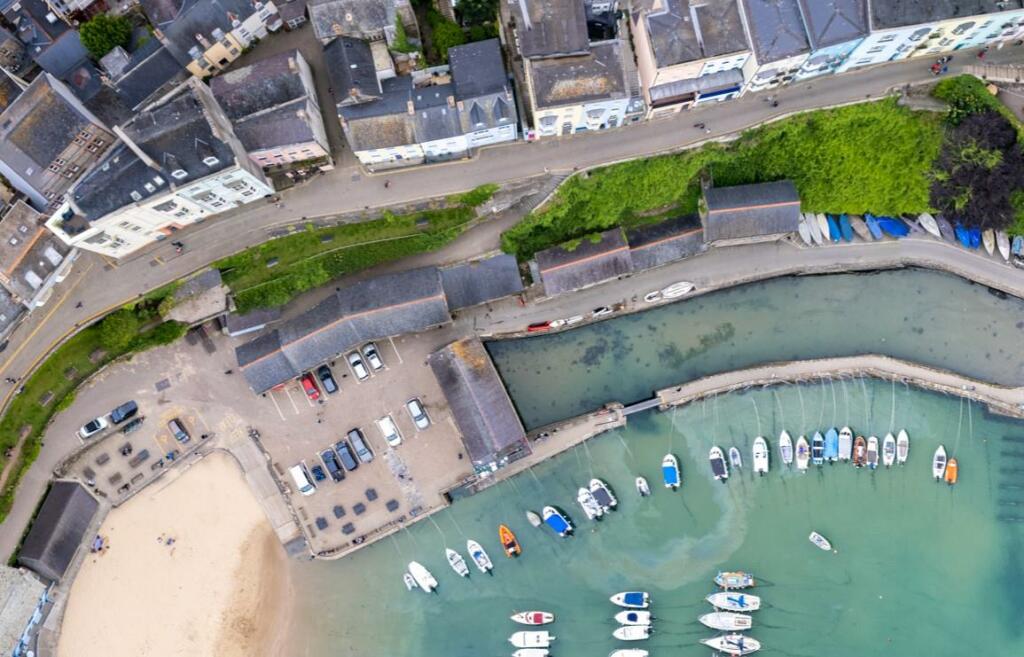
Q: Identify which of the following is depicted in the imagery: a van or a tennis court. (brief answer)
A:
van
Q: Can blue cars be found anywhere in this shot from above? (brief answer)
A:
Yes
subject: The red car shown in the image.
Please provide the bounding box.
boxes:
[298,373,321,401]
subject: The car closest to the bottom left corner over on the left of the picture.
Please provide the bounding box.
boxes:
[78,415,109,439]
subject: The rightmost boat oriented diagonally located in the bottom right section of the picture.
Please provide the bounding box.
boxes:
[810,532,834,553]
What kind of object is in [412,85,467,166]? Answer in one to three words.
house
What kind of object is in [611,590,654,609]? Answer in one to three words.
boat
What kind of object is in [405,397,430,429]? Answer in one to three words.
car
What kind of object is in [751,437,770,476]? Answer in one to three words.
boat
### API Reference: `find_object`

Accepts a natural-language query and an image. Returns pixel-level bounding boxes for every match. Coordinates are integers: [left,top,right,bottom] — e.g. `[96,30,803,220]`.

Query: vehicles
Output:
[110,400,140,424]
[405,397,430,429]
[298,373,321,401]
[346,351,371,382]
[333,439,361,472]
[286,461,317,497]
[317,365,340,395]
[78,415,109,439]
[361,343,385,372]
[375,414,402,448]
[318,447,347,484]
[165,415,193,445]
[347,428,374,463]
